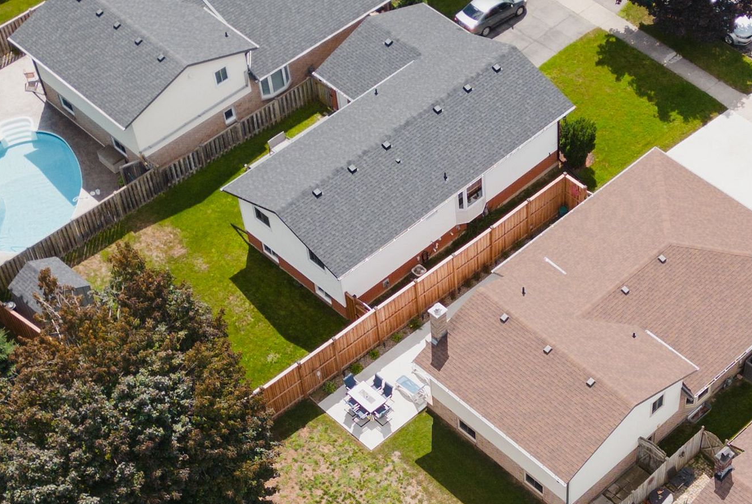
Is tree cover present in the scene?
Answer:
Yes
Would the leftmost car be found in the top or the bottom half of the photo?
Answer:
top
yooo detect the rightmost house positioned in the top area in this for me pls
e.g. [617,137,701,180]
[218,3,580,318]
